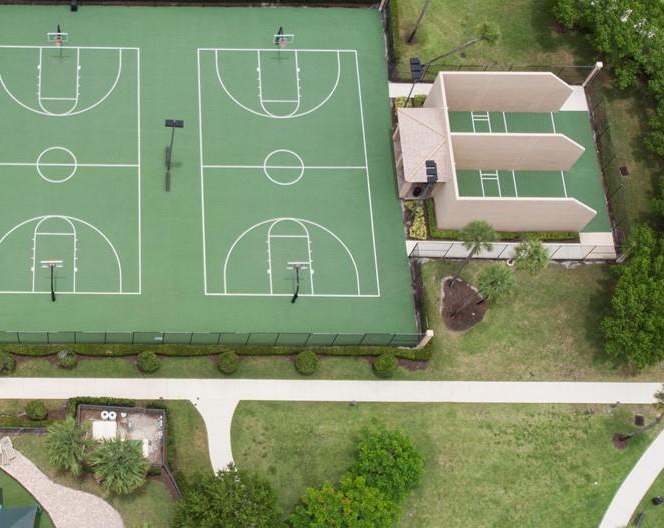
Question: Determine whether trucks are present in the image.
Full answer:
No, there's no truck here.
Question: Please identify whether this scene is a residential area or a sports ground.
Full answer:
The picture captures a sports ground.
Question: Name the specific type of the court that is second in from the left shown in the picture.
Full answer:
Specifically, the court that is second in from the left is a basketball court.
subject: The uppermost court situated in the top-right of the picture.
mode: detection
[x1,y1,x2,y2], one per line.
[448,111,602,171]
